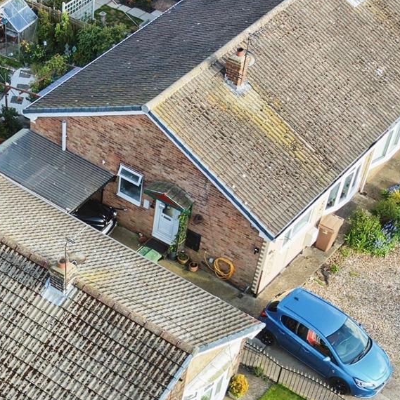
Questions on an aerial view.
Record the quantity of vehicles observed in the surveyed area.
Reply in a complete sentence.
The count of vehicles comes to 2.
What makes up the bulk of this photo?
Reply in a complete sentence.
What you mostly see from above here is buildings.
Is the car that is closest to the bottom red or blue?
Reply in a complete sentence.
From above, the car that is closest to the bottom appears blue.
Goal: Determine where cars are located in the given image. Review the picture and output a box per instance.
[258,294,390,398]
[70,201,104,231]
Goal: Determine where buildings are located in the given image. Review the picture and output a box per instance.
[0,0,42,68]
[21,0,400,297]
[0,173,268,400]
